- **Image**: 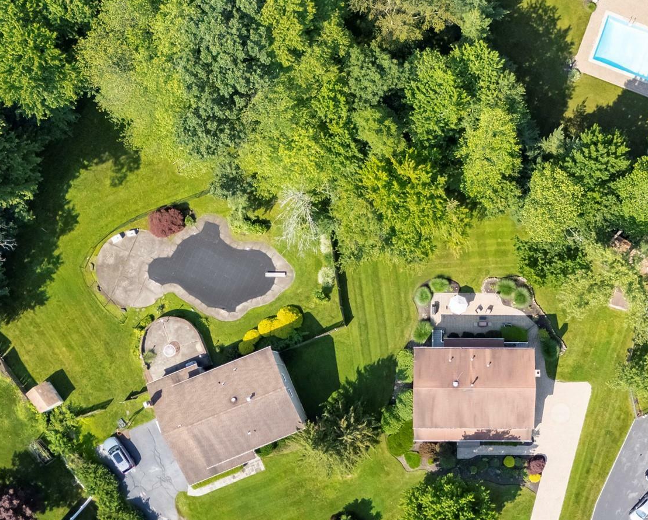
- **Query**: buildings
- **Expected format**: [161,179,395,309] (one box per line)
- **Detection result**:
[140,346,309,486]
[26,381,71,414]
[413,330,542,448]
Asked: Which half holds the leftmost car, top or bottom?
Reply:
bottom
